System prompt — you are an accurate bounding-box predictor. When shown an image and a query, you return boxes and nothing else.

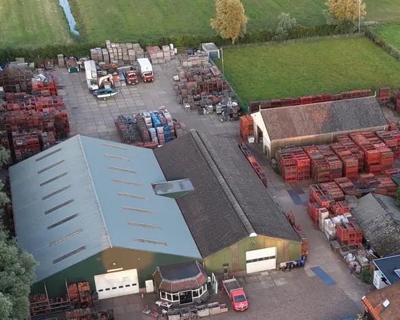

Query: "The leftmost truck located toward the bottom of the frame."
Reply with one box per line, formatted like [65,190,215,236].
[224,281,247,307]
